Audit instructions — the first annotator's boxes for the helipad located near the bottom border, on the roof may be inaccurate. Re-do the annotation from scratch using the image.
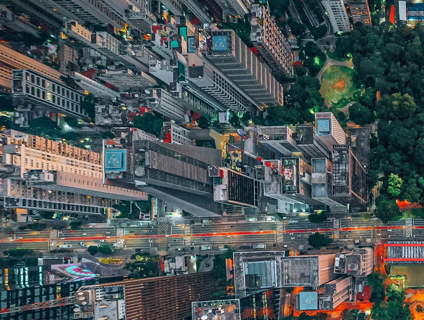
[300,292,317,311]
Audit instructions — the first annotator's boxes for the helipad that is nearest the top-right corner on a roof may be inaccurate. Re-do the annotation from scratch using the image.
[317,119,331,133]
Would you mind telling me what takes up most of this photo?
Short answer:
buildings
